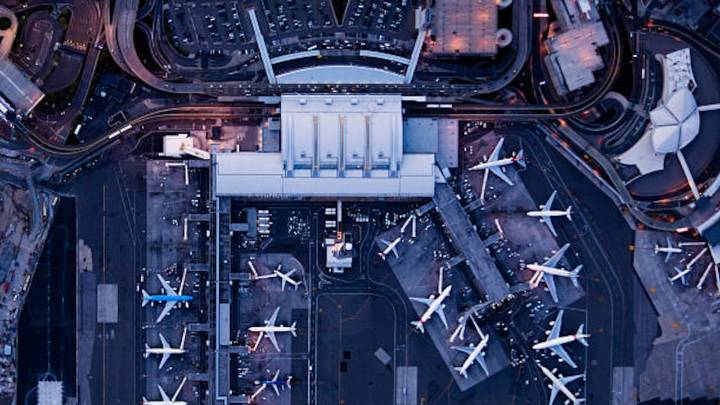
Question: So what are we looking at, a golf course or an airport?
airport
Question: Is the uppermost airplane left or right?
right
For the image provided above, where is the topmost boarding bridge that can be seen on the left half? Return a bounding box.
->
[165,162,189,186]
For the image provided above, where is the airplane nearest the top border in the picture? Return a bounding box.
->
[469,138,526,184]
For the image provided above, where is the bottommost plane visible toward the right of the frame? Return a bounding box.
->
[540,364,590,405]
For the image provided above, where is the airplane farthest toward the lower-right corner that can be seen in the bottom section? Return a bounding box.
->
[669,267,690,284]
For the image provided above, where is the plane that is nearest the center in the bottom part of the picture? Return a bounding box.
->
[380,237,402,259]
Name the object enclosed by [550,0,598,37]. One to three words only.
building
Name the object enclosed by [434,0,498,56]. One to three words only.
building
